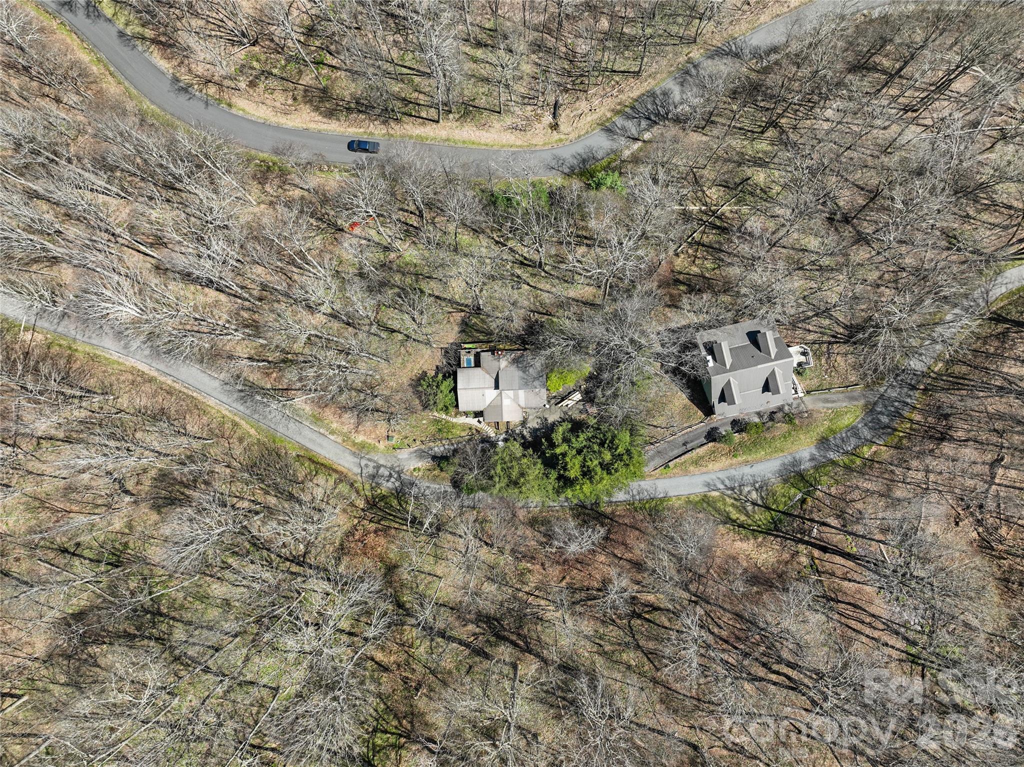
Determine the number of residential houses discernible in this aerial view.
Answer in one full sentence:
There are 2 residential houses in the image.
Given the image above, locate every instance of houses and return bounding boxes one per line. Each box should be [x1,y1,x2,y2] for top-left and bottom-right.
[693,317,795,420]
[457,347,547,422]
